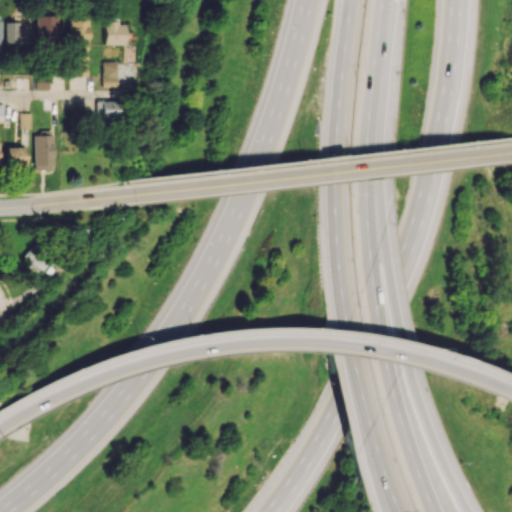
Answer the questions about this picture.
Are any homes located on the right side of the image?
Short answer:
No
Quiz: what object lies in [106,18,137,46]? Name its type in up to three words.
house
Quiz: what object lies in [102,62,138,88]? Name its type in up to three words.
house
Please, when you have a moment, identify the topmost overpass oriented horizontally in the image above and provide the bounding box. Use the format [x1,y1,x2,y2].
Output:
[145,138,512,204]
